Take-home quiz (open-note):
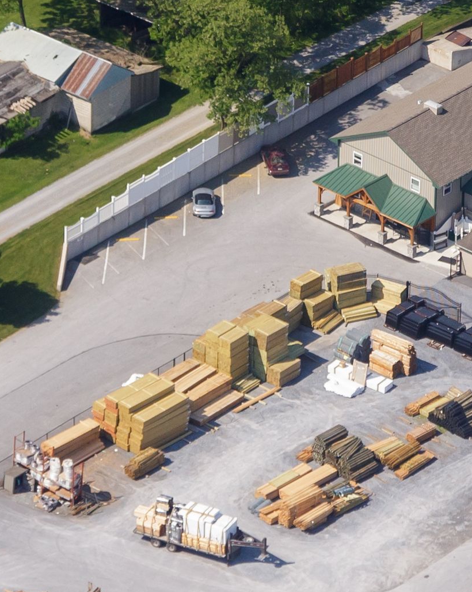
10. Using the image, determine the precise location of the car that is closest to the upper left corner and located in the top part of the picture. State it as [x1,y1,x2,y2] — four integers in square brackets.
[191,188,216,218]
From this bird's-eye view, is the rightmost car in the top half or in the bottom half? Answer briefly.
top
